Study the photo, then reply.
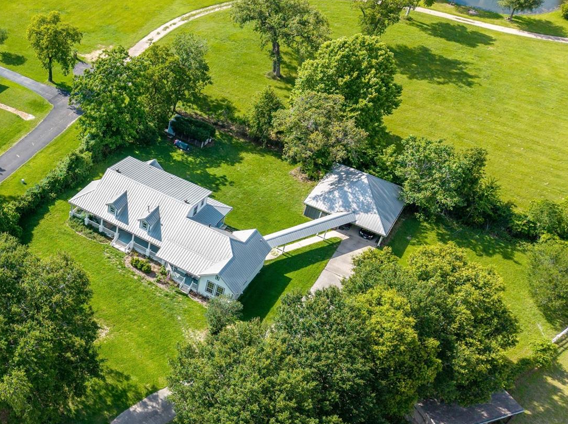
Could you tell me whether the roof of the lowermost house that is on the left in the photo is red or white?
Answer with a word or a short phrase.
white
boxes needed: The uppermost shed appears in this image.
[169,112,226,148]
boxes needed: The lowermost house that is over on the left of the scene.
[68,156,272,302]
